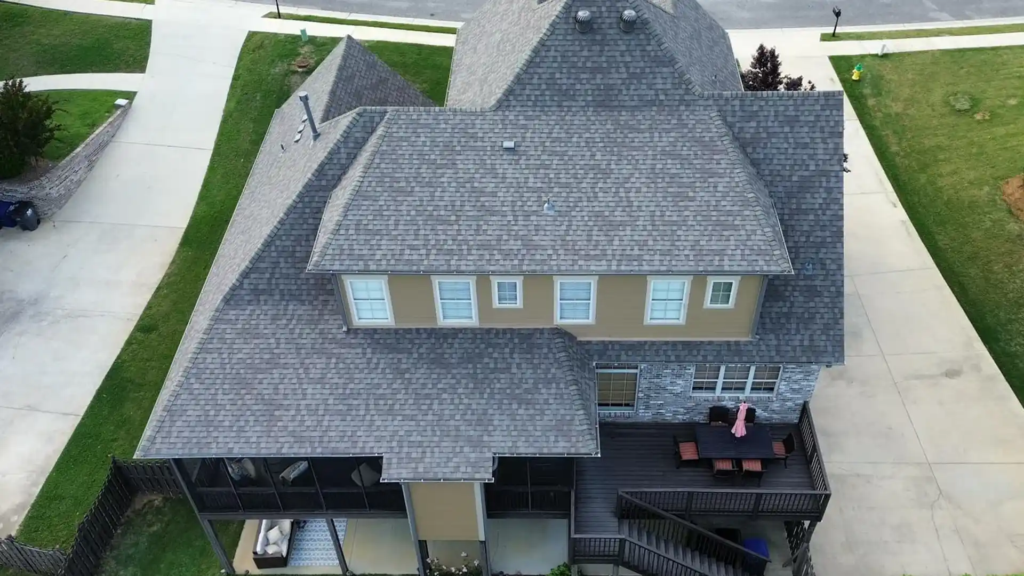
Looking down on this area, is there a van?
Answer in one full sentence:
No, I can't see a single van in this photo.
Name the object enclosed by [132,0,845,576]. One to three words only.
house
